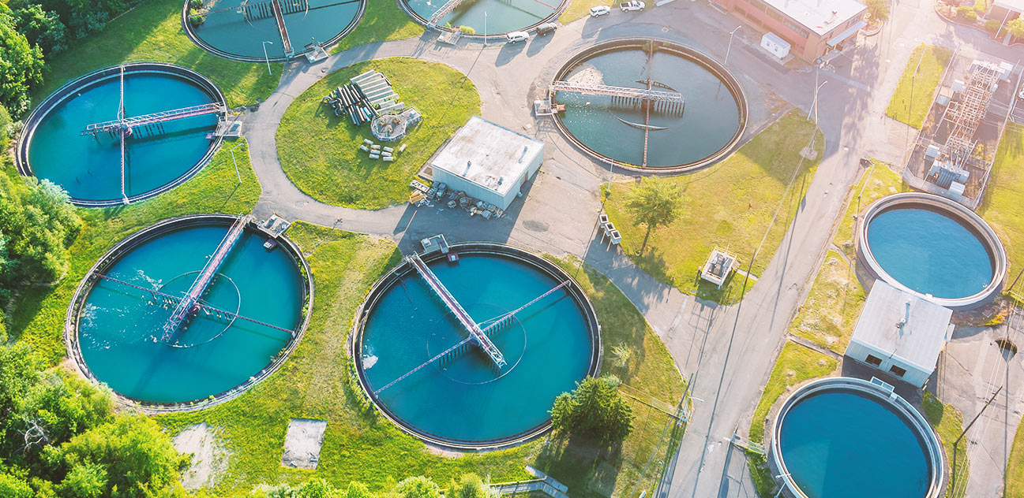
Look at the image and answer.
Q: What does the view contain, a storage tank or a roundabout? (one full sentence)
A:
Of the two, only a storage tank appears.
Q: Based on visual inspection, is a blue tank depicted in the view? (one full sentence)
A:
Yes, there's a blue tank down there.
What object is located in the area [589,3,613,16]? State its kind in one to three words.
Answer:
vehicle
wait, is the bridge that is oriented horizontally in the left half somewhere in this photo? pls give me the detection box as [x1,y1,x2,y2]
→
[82,98,226,133]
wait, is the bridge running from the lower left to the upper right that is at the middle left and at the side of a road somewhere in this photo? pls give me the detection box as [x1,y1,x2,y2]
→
[161,213,253,341]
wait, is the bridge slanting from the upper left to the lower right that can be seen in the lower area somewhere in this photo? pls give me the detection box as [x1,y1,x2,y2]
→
[406,251,506,370]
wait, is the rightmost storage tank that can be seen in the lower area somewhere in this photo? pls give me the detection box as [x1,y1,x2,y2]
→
[354,229,599,450]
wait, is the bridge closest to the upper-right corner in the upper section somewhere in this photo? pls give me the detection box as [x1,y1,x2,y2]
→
[548,78,686,105]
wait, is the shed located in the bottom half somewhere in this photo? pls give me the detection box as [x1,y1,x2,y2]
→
[844,279,954,387]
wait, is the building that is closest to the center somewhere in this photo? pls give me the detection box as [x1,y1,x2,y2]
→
[422,114,546,211]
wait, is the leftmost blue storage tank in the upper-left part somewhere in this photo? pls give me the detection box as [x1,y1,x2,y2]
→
[19,62,241,207]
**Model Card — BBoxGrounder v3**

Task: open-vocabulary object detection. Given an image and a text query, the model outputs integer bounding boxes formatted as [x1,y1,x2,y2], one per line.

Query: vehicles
[619,0,646,11]
[507,30,531,42]
[534,21,558,34]
[589,3,613,16]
